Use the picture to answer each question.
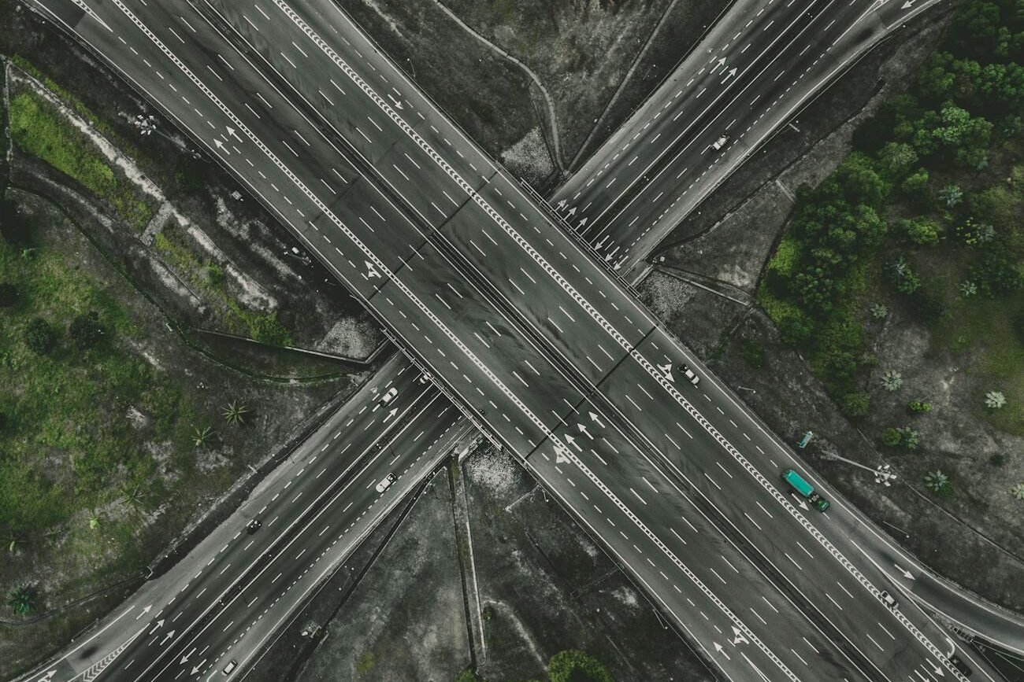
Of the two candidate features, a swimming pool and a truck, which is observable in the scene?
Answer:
truck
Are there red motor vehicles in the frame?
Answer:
No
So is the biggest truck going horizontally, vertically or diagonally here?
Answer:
diagonally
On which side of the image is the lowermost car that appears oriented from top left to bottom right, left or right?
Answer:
right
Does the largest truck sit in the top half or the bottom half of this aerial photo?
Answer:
bottom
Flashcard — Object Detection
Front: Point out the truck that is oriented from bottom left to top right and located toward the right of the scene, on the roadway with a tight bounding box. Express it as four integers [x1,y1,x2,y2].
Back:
[709,128,734,152]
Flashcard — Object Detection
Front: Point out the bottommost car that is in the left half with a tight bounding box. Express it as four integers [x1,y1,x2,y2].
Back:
[220,659,239,678]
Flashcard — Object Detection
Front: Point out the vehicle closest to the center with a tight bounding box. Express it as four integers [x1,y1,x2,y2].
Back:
[416,373,433,388]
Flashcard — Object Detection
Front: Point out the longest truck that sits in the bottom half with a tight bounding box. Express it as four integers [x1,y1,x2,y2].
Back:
[785,471,836,516]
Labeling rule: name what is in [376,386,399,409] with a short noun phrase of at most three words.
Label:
vehicle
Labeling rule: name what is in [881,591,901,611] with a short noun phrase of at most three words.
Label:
car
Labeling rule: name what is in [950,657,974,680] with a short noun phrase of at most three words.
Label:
car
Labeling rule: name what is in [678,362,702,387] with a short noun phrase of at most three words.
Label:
truck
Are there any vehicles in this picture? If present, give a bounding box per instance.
[950,657,974,680]
[678,362,702,387]
[374,472,398,495]
[376,386,399,409]
[416,373,433,388]
[785,471,836,516]
[220,659,239,678]
[709,128,734,152]
[243,518,262,537]
[881,591,901,611]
